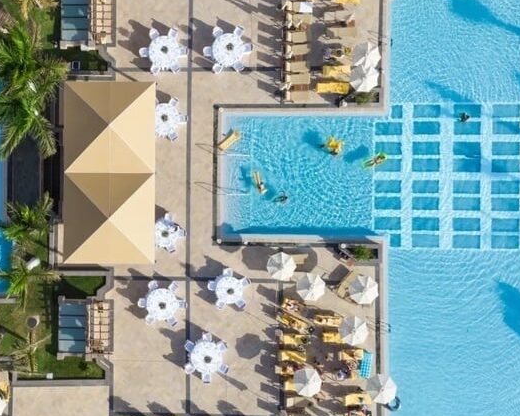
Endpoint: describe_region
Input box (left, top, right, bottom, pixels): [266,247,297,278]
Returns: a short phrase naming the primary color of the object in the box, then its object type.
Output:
white umbrella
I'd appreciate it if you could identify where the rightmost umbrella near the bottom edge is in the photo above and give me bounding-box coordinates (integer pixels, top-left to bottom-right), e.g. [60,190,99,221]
[363,372,395,403]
